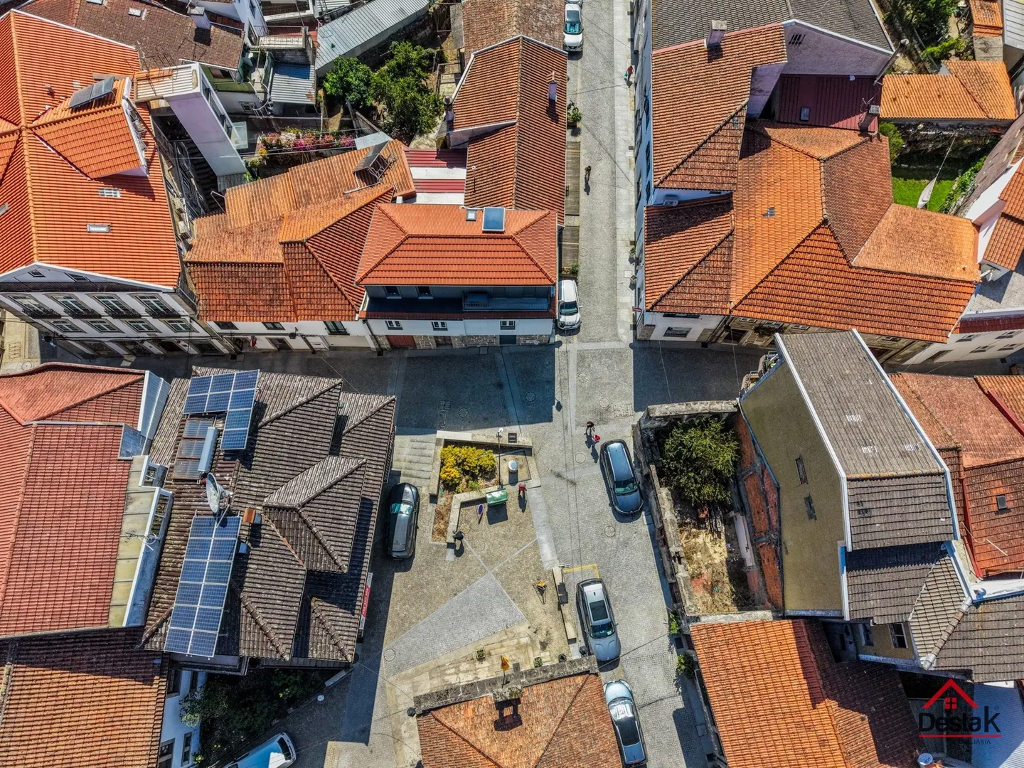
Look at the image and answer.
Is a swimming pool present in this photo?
No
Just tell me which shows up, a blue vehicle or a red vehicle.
blue vehicle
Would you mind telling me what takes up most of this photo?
buildings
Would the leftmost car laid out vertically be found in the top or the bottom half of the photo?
bottom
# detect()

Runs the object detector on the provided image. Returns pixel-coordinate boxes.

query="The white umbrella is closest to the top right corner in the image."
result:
[914,139,955,208]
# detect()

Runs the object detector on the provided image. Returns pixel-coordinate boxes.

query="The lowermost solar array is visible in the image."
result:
[164,516,241,657]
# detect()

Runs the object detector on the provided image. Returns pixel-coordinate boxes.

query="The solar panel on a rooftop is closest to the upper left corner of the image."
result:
[70,77,115,111]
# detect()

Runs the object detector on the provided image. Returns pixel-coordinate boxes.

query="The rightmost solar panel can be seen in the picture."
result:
[473,208,504,232]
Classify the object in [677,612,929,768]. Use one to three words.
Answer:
house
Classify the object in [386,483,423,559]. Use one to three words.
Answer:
car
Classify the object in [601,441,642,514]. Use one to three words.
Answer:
car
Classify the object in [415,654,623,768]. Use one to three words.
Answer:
house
